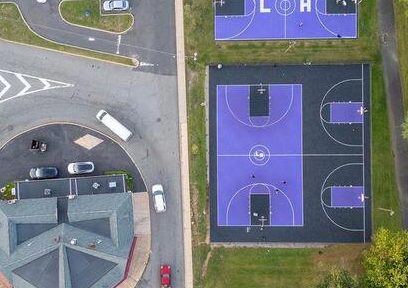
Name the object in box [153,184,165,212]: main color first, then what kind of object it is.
white vehicle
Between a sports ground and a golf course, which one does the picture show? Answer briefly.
sports ground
